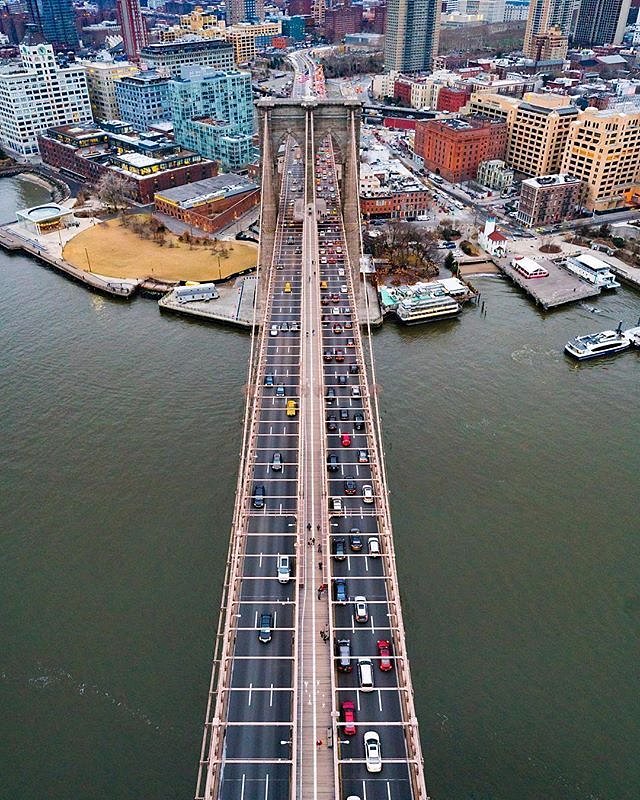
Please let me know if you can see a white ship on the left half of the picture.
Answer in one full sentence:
No, on the left half of the picture there is no white ship.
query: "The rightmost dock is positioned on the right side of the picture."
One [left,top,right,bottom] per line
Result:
[490,252,603,316]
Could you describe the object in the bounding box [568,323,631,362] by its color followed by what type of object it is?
white ship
